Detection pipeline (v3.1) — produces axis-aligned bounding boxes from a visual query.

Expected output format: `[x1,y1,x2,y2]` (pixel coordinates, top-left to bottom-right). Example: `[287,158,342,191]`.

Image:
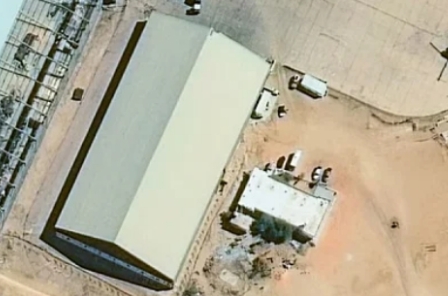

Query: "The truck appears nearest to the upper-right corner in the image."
[294,76,329,97]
